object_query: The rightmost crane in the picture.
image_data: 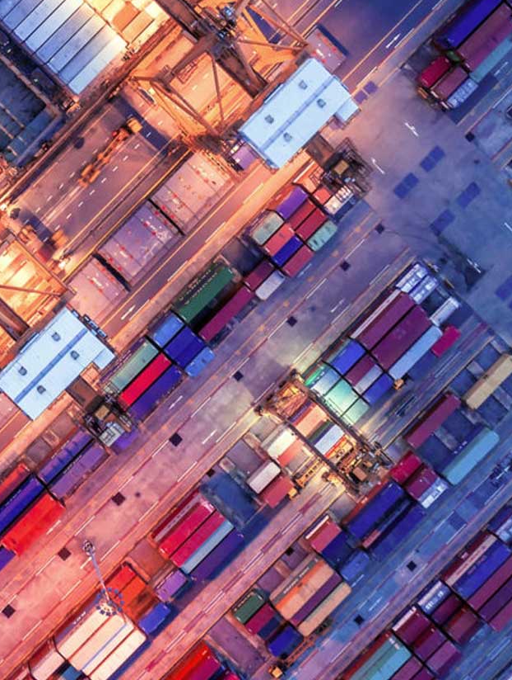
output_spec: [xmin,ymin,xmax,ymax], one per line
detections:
[254,370,397,507]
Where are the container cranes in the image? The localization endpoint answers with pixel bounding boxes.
[0,194,139,450]
[254,370,397,507]
[107,0,379,204]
